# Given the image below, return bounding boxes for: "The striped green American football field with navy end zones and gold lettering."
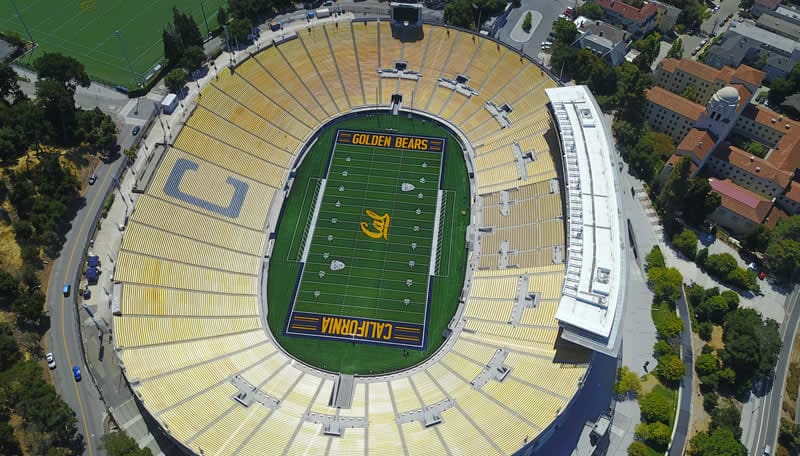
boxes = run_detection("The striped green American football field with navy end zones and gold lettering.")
[265,112,473,376]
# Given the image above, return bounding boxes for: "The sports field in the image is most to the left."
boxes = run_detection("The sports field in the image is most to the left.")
[0,0,233,98]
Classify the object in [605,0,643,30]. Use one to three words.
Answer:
house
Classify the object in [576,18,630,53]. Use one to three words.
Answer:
house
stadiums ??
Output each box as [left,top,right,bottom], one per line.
[112,16,596,456]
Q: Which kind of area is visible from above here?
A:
sports ground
